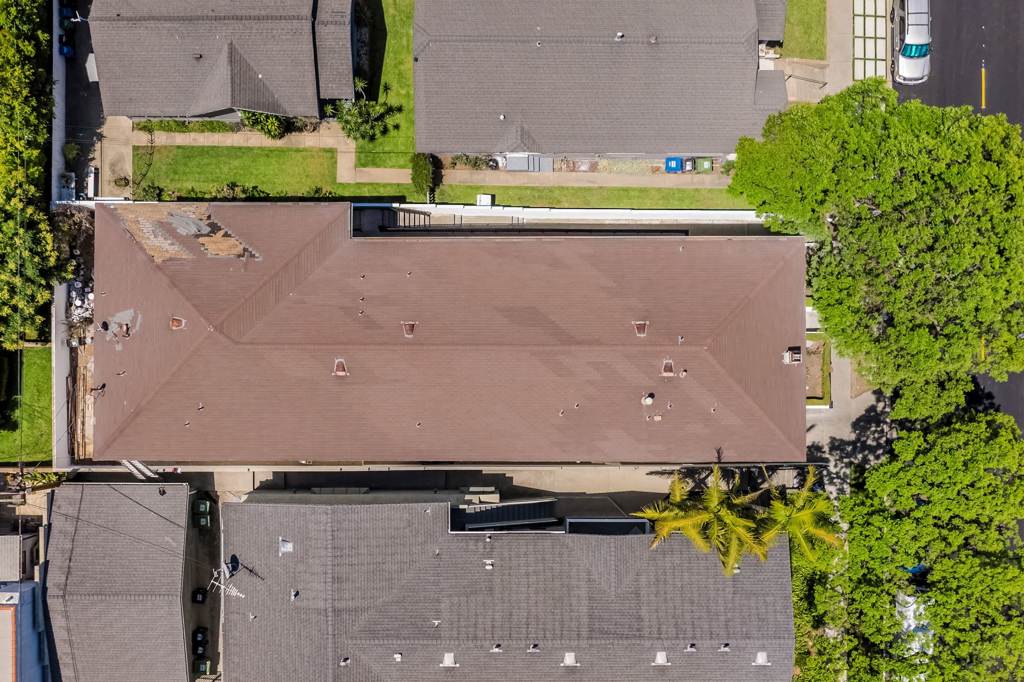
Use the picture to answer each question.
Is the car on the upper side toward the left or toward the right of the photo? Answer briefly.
right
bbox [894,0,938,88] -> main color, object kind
white car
